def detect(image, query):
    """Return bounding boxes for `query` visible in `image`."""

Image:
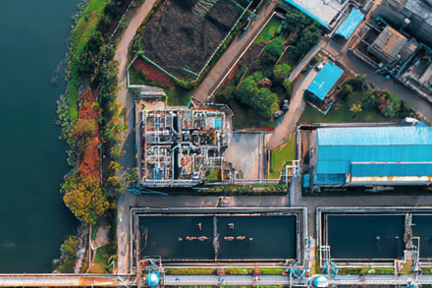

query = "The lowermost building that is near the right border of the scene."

[305,125,432,189]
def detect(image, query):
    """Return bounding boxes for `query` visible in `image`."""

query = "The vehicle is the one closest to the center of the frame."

[269,107,288,120]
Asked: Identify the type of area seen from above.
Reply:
industrial area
